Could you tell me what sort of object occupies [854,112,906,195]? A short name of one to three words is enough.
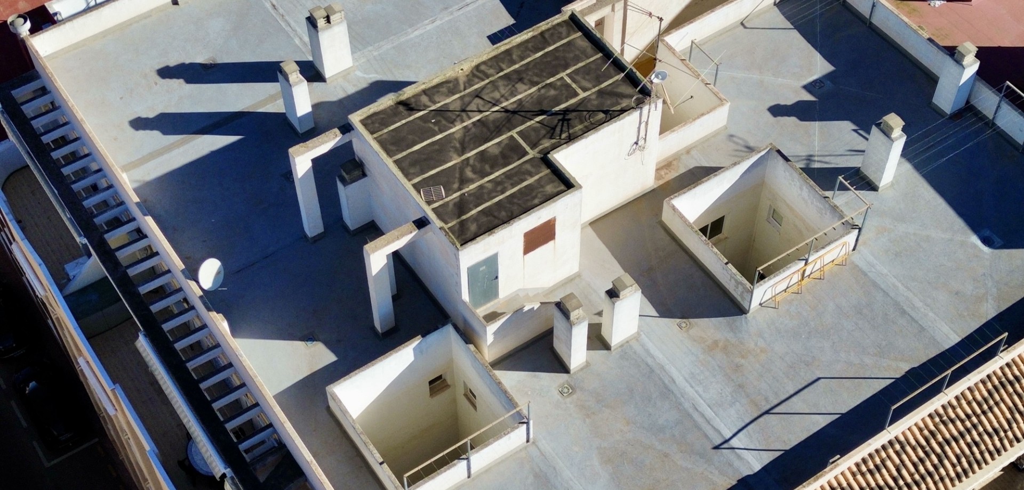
chimney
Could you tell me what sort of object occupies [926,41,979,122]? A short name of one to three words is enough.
chimney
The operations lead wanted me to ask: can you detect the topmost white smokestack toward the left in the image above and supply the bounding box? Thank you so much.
[306,0,358,86]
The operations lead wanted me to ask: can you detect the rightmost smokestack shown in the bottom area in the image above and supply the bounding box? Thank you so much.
[595,272,643,355]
